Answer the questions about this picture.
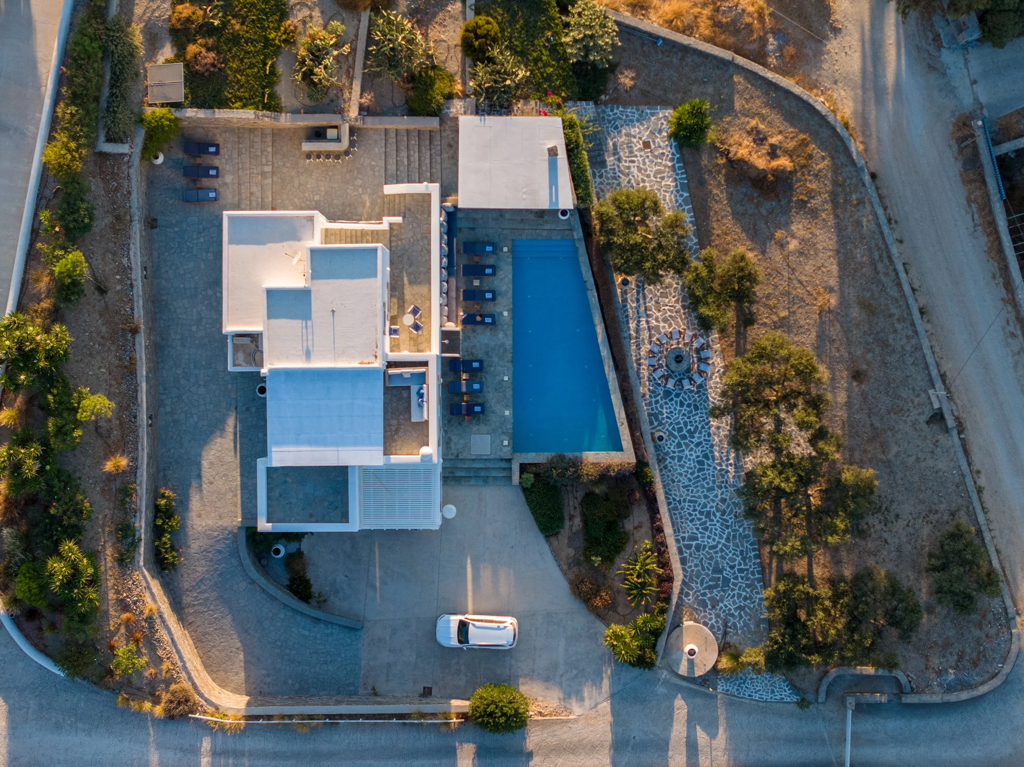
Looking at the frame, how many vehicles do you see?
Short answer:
1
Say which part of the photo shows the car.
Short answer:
bottom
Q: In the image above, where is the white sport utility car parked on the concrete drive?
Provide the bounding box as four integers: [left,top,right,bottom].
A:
[436,610,518,653]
